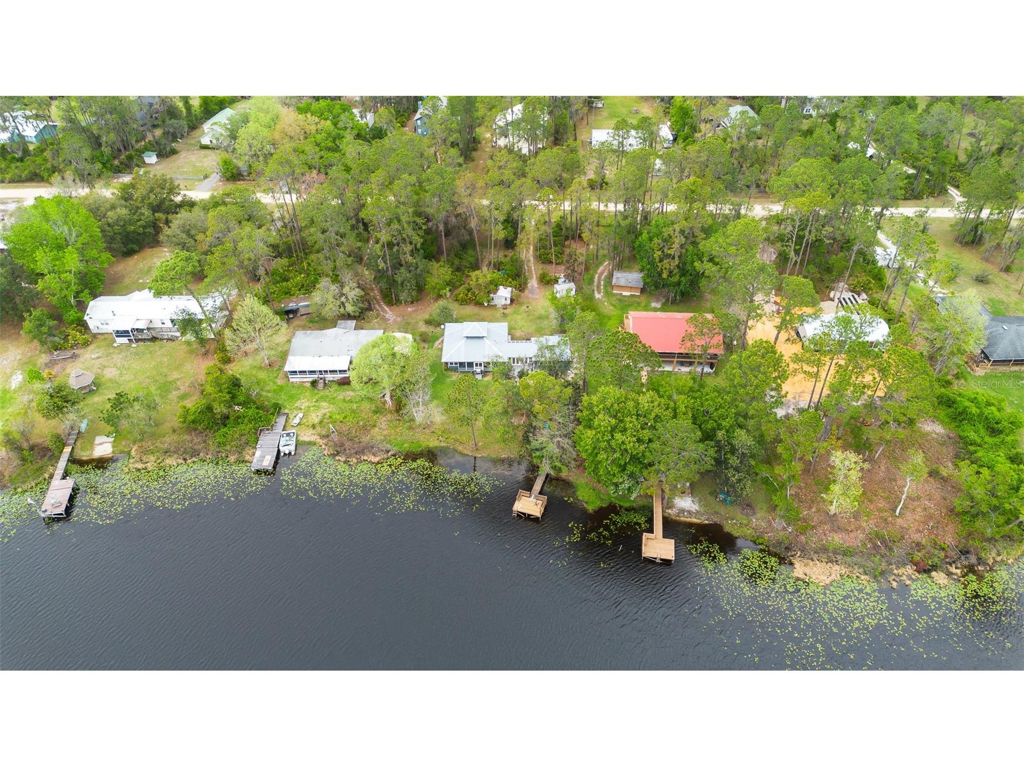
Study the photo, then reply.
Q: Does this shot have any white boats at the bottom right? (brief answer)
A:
No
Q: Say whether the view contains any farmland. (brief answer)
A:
No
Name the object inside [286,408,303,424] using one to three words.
boat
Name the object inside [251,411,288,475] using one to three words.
pier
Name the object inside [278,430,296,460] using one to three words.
boat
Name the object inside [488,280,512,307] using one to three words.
shed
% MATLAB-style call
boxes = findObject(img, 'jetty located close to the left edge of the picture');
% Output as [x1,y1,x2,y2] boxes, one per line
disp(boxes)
[41,432,79,521]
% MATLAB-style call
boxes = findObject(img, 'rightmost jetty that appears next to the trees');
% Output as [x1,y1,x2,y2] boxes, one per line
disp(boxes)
[642,481,675,566]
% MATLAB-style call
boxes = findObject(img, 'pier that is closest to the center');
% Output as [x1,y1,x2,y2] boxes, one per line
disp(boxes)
[512,472,548,523]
